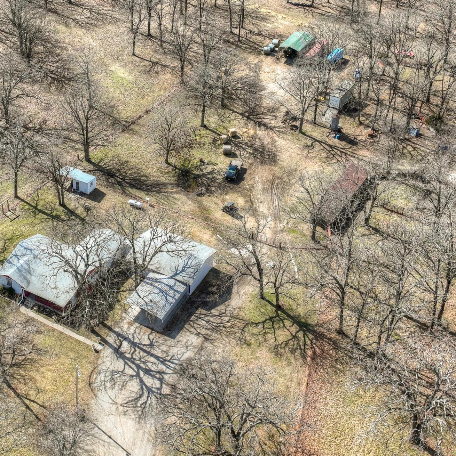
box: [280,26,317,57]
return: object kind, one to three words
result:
barn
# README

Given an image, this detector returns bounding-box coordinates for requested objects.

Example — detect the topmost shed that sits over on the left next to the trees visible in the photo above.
[57,166,97,195]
